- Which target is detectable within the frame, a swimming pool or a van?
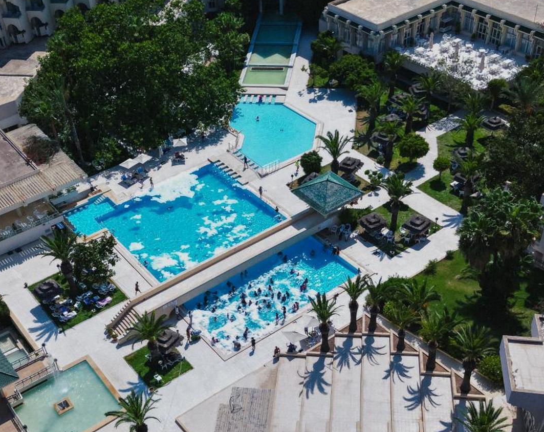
swimming pool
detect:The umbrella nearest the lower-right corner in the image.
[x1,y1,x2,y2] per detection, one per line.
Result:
[401,216,434,240]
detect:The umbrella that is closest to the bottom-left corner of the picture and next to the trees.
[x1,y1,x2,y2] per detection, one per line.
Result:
[36,278,63,301]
